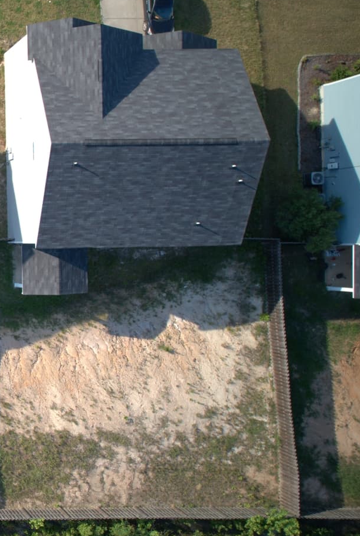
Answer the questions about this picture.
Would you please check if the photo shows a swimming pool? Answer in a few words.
No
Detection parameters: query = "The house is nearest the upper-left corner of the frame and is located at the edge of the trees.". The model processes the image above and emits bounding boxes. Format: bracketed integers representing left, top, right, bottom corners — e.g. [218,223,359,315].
[6,17,269,295]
